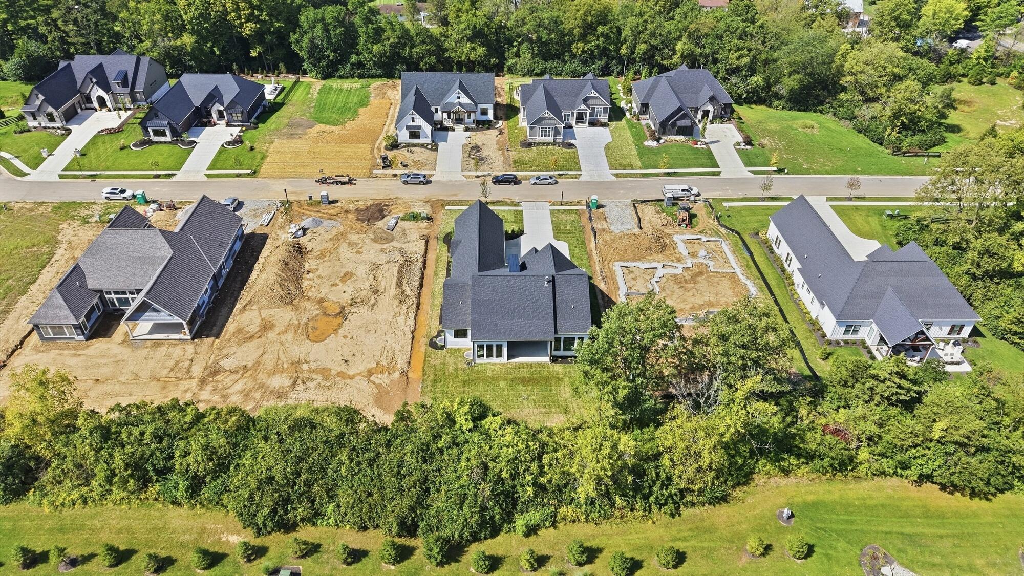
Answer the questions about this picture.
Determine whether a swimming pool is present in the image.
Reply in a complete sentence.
No, no swimming pool can be seen from above.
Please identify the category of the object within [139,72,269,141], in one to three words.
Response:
house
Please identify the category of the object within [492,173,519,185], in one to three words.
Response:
vehicle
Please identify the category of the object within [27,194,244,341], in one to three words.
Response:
house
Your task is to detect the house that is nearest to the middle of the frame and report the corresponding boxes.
[436,198,591,362]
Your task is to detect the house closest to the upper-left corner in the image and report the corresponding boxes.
[15,42,171,127]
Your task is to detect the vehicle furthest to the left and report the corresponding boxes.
[100,188,132,201]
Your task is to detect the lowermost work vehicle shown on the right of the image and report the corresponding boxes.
[676,202,694,229]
